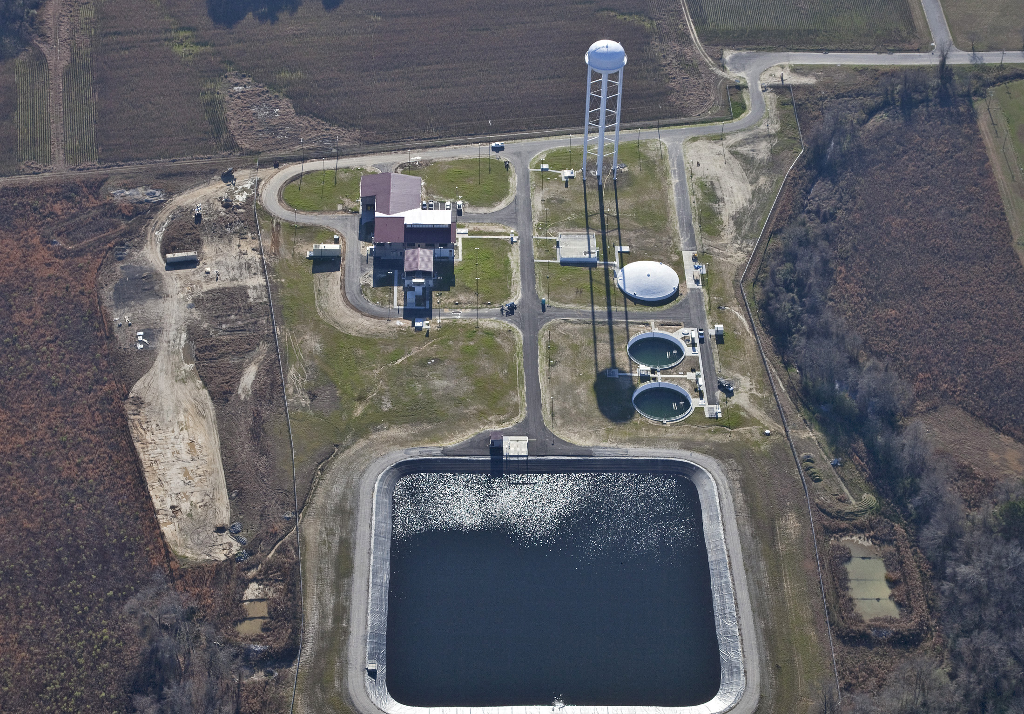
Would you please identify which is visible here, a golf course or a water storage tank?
water storage tank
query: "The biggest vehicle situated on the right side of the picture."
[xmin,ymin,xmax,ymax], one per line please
[714,376,738,392]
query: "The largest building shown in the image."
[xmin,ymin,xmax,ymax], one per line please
[360,172,456,258]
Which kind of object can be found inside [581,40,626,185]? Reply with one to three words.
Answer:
water tower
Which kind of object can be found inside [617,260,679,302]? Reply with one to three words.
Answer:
storage tank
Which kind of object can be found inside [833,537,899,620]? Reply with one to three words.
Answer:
pond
